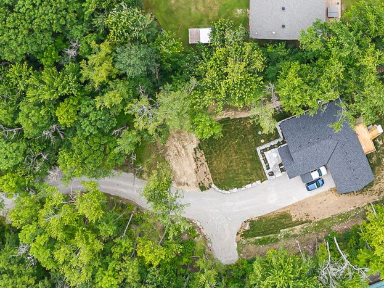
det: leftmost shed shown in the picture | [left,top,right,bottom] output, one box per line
[187,30,211,45]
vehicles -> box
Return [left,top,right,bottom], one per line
[300,165,327,184]
[305,177,325,191]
